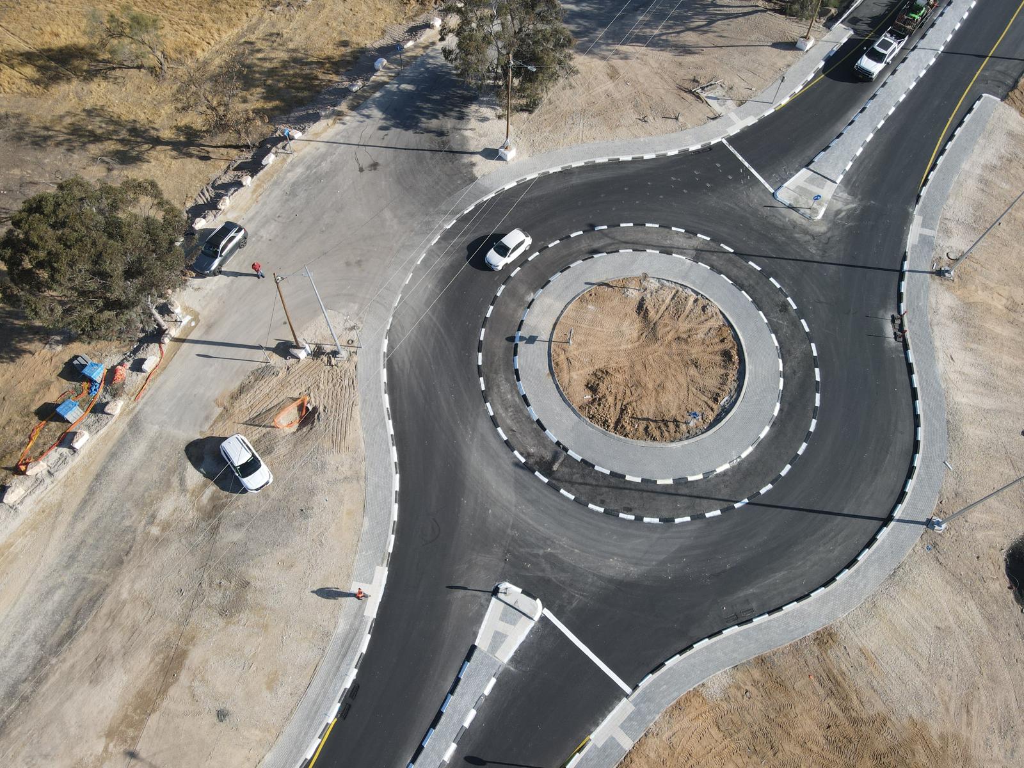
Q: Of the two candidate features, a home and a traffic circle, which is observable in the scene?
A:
traffic circle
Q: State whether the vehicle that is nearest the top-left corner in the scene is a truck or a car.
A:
car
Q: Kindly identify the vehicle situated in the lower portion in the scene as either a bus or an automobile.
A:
automobile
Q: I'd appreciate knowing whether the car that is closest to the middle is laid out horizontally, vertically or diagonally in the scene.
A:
diagonally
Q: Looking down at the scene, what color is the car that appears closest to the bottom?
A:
white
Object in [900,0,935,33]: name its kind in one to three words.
work vehicle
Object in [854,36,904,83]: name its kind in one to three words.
truck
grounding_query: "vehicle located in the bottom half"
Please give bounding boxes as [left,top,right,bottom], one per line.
[218,432,277,494]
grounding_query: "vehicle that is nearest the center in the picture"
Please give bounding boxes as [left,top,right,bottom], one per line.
[483,225,533,270]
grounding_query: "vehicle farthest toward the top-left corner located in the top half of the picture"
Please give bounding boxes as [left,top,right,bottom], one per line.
[188,220,246,278]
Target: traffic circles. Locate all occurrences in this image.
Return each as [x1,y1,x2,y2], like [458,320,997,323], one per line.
[478,223,821,522]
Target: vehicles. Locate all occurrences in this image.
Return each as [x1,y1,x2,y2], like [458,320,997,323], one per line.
[854,36,904,83]
[483,225,533,270]
[218,432,277,494]
[900,0,935,33]
[188,220,246,278]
